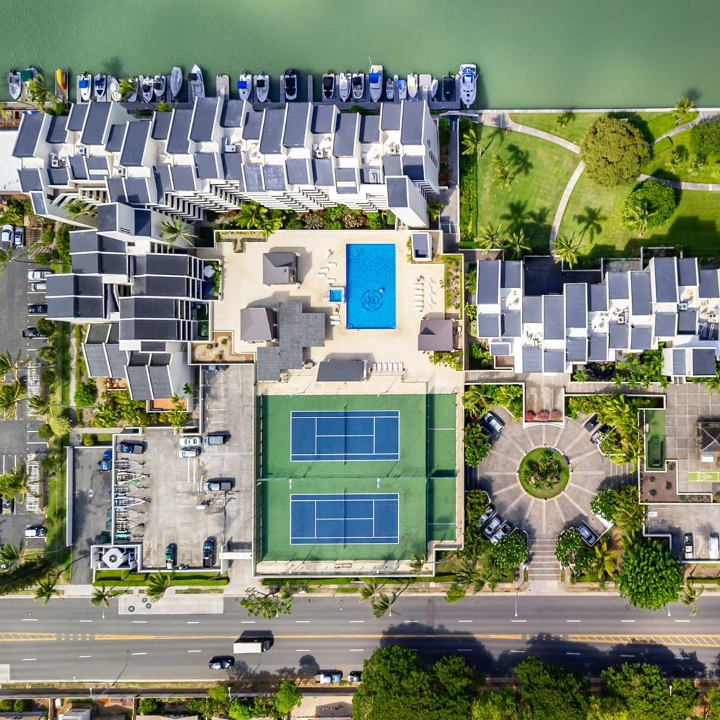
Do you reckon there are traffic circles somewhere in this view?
Yes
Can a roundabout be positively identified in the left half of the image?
No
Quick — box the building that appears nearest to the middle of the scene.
[316,361,371,381]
